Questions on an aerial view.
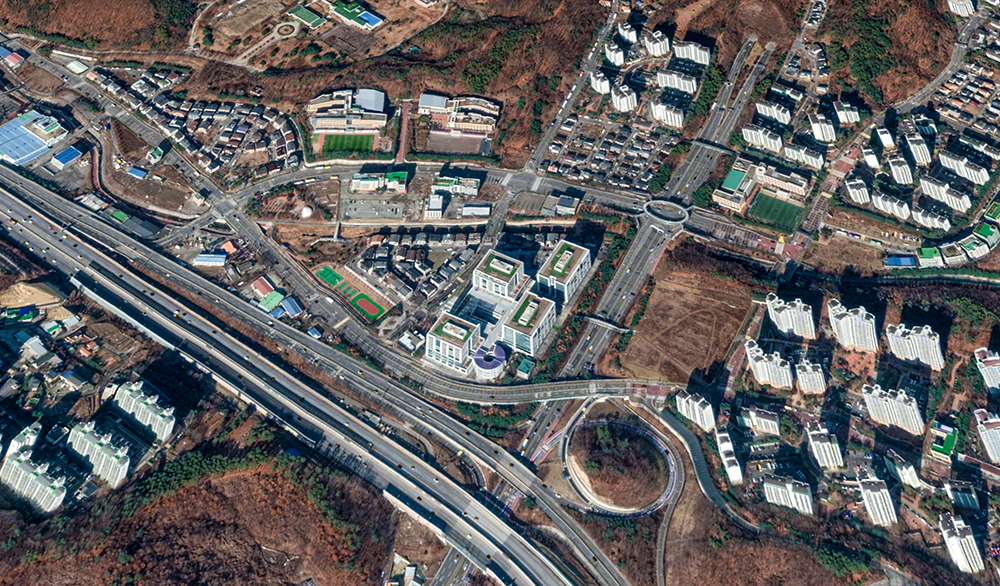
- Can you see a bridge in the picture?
Yes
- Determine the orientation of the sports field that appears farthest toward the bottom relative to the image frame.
on a diagonal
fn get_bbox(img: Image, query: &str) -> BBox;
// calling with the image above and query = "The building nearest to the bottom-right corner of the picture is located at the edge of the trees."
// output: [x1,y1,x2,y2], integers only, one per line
[938,515,979,570]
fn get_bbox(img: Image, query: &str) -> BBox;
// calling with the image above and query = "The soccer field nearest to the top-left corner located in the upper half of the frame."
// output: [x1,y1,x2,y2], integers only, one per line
[312,129,380,151]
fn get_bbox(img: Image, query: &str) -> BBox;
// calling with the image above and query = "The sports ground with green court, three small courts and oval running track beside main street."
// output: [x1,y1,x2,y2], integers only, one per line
[313,262,393,321]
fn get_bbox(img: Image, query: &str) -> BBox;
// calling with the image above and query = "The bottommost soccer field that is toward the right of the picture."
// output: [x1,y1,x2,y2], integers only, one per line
[746,188,807,231]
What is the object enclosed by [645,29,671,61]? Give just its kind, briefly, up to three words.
building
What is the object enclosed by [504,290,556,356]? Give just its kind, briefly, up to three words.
building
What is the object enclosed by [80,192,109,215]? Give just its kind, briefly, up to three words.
shed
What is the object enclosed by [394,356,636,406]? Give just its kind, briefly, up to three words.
bridge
